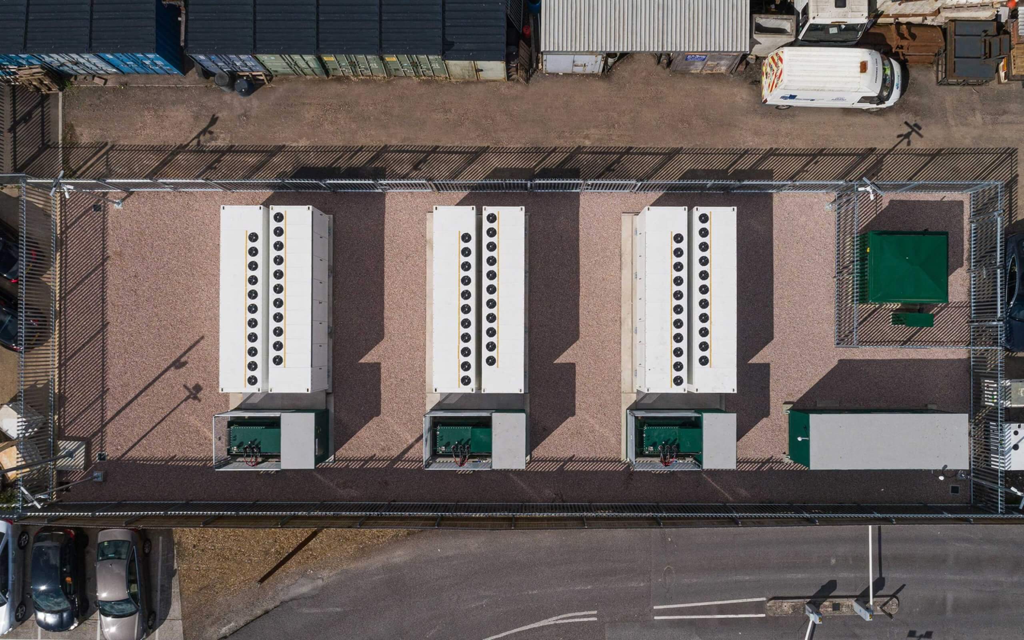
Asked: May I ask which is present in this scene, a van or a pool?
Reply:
van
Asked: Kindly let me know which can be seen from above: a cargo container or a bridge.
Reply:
cargo container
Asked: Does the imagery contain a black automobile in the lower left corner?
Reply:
Yes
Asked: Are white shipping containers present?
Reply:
Yes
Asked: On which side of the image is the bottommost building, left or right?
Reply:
right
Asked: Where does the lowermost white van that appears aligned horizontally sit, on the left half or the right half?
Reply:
right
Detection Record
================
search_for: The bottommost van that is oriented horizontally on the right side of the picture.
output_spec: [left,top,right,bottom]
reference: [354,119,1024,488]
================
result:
[763,46,900,112]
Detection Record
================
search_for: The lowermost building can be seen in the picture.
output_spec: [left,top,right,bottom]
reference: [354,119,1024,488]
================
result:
[786,409,968,469]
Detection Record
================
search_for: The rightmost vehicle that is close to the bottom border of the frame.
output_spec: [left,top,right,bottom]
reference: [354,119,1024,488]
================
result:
[88,529,153,640]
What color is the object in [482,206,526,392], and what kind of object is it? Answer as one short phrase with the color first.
white shipping container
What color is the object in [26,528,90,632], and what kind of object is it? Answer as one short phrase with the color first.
black car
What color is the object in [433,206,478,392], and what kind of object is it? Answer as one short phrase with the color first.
white shipping container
